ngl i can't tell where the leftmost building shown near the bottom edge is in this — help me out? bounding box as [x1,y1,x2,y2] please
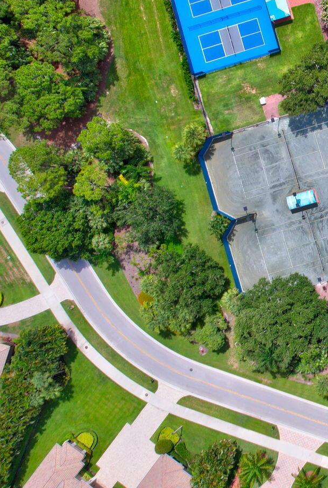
[24,439,92,488]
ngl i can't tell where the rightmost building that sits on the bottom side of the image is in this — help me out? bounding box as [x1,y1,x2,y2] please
[137,453,193,488]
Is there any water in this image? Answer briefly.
No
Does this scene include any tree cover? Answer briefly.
Yes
